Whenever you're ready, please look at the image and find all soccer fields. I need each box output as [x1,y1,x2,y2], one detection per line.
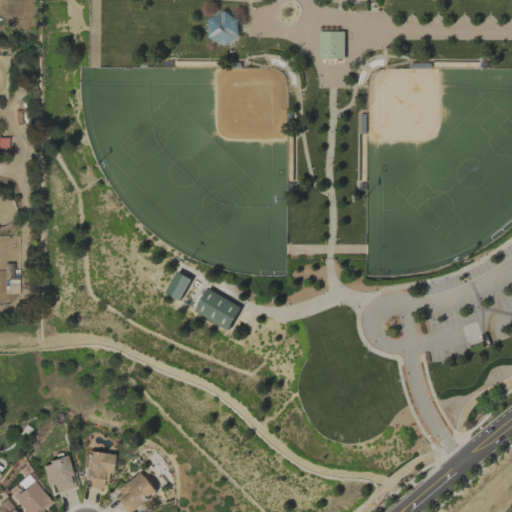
[396,98,512,246]
[110,98,259,246]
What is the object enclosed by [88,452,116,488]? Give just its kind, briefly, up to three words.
house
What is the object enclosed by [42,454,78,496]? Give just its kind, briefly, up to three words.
house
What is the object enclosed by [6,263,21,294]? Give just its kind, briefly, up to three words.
building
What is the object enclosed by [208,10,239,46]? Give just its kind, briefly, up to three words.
building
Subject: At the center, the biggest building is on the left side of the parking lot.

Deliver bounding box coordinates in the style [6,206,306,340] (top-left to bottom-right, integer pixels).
[196,288,241,329]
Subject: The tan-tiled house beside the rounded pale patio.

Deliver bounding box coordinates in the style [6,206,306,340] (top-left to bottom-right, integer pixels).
[119,474,156,512]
